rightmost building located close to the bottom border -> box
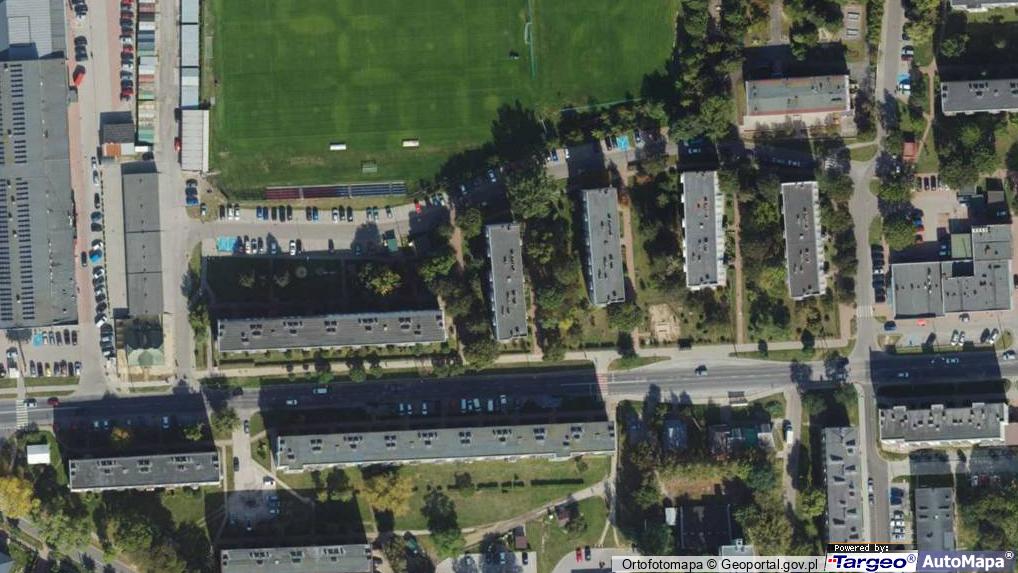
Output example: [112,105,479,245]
[912,488,953,573]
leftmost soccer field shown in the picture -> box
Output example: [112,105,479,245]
[209,0,535,196]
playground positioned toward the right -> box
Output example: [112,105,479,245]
[650,301,678,341]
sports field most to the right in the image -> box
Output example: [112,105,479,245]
[533,0,683,147]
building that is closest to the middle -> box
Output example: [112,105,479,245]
[487,223,531,342]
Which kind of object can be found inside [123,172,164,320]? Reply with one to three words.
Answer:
shed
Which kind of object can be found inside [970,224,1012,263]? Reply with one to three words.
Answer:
building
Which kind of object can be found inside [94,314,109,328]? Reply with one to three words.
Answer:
vehicle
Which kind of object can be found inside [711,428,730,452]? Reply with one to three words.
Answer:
house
